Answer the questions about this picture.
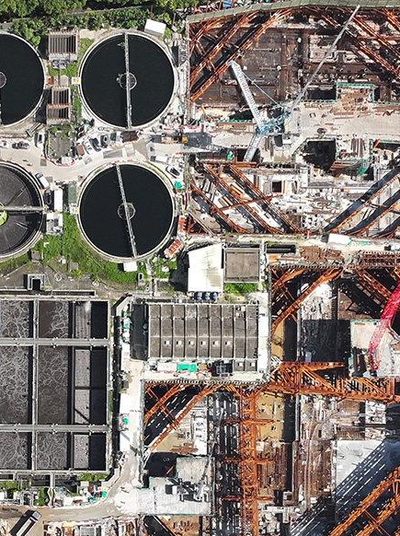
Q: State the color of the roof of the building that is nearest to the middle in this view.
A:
white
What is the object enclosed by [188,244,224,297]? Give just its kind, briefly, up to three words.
building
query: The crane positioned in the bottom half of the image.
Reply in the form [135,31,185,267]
[363,277,400,383]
